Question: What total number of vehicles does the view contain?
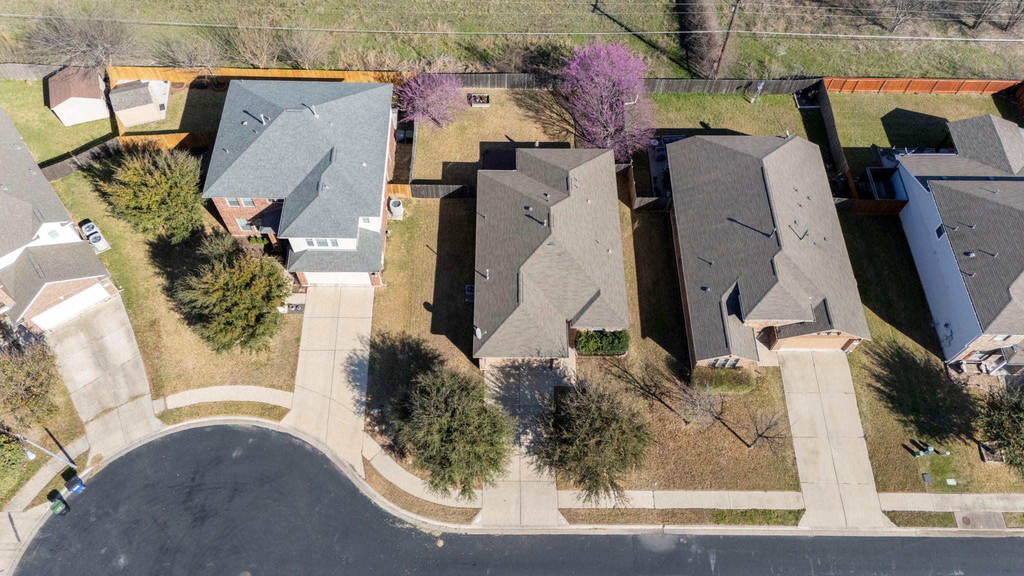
0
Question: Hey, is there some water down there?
No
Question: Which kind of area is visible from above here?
residential area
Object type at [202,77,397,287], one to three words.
house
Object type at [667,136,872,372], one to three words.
house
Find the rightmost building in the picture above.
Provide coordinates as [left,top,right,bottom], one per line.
[889,114,1024,376]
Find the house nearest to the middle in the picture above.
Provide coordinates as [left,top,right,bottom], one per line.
[472,148,630,374]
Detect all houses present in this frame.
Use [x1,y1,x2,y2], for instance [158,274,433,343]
[202,77,397,287]
[667,136,872,372]
[0,98,130,338]
[889,114,1024,376]
[472,148,630,374]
